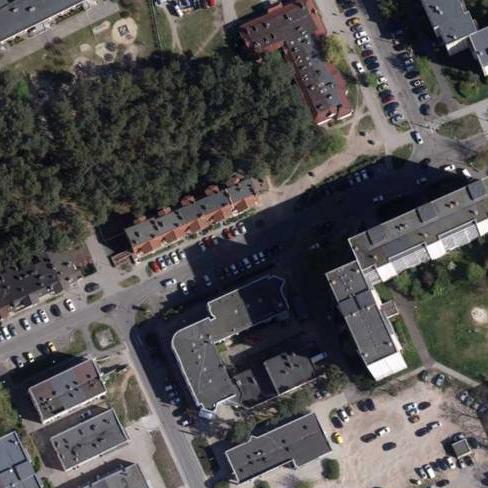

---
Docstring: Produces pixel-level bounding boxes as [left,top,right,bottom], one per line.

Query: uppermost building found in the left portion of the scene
[0,0,90,45]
